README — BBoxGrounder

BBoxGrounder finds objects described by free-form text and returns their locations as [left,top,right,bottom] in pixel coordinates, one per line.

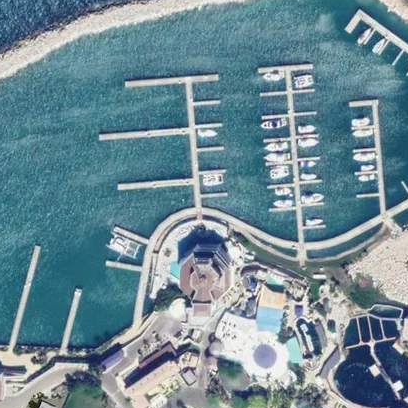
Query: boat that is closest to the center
[203,174,224,186]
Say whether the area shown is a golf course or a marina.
marina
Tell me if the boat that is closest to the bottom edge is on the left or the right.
left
